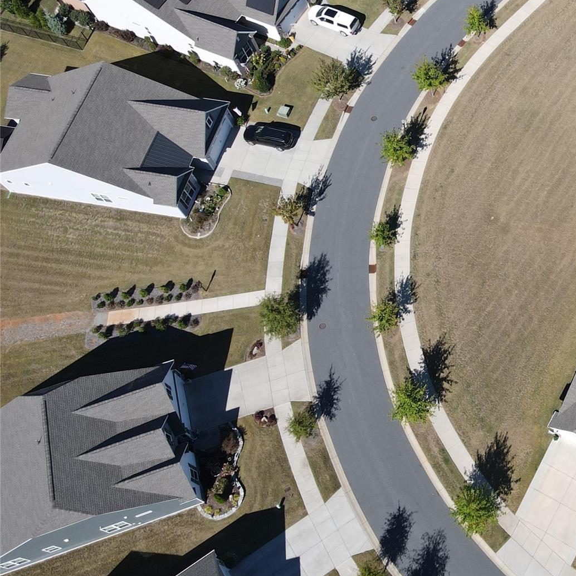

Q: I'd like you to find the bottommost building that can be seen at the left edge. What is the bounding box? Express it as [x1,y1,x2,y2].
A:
[0,359,207,573]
